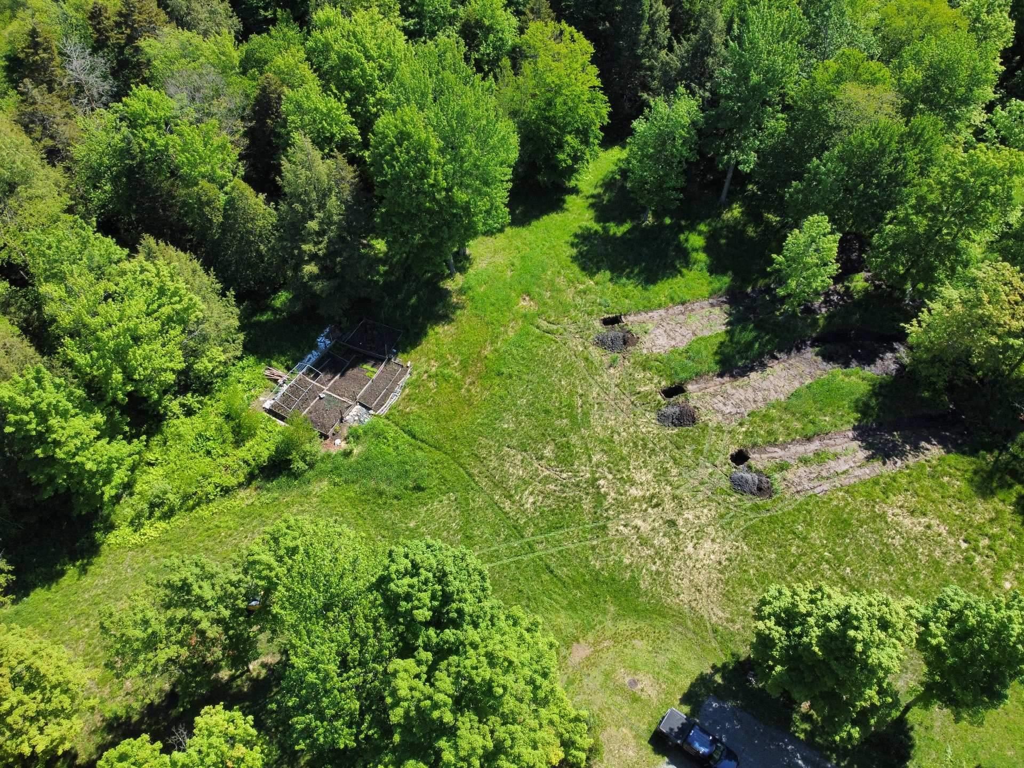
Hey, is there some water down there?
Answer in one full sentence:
No, there is no water in the image.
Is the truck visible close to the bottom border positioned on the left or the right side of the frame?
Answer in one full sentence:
The truck visible close to the bottom border sits on the right side.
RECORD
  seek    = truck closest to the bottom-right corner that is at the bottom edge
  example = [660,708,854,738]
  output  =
[657,707,739,768]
